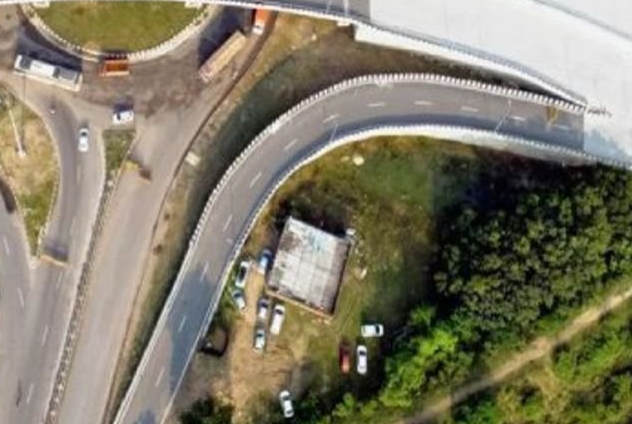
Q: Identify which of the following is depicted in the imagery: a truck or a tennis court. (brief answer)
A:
truck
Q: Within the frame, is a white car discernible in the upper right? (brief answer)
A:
No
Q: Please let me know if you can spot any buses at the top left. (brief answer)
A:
Yes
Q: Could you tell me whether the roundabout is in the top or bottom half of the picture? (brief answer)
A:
top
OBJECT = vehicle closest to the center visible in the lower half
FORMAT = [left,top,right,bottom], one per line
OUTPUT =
[258,247,274,274]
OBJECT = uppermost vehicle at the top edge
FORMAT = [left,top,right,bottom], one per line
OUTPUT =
[251,11,270,35]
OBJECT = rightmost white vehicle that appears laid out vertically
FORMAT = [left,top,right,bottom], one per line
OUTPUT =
[356,344,369,375]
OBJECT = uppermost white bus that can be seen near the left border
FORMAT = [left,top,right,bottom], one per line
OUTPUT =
[13,54,85,91]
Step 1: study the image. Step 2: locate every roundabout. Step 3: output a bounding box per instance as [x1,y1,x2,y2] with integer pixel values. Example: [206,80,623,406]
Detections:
[0,2,236,73]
